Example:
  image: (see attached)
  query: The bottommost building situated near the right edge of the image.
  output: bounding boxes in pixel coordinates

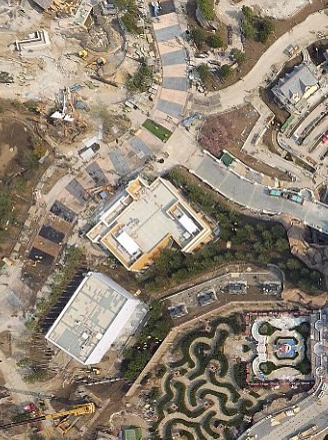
[271,64,320,118]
